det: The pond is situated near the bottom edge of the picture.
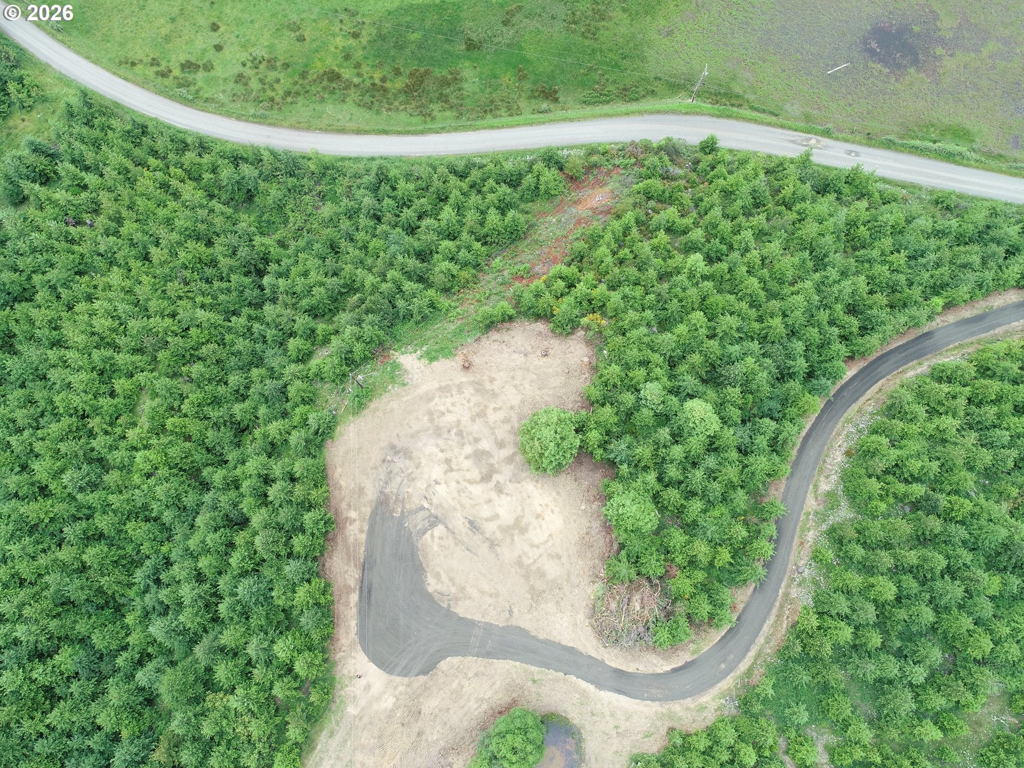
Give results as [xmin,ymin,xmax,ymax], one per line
[531,713,583,768]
